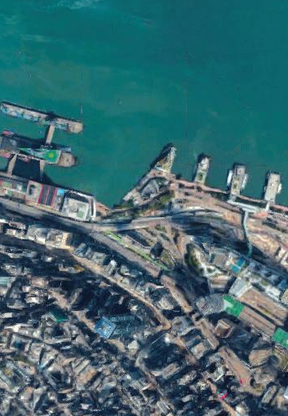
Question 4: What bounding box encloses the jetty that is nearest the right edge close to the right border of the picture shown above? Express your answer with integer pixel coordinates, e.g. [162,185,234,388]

[264,172,281,211]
